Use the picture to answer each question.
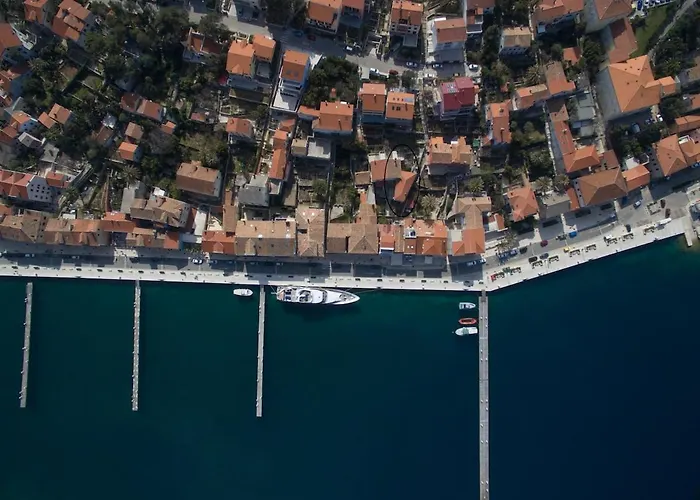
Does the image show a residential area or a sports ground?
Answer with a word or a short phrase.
residential area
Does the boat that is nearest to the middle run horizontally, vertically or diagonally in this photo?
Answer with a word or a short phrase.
horizontally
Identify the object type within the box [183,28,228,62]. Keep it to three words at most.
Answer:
house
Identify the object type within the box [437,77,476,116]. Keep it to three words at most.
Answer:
house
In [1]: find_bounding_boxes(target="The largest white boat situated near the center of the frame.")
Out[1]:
[268,285,379,305]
